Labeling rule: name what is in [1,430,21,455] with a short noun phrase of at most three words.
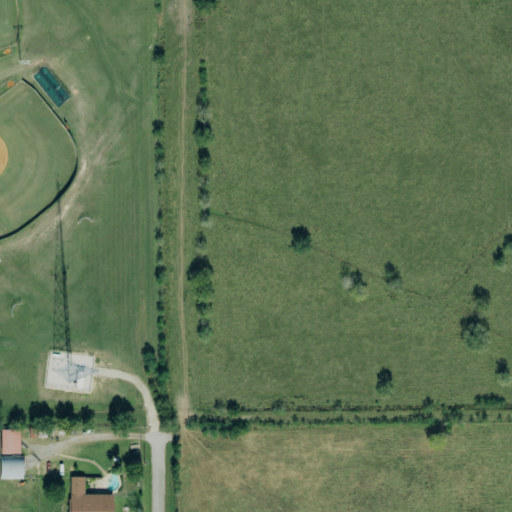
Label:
barn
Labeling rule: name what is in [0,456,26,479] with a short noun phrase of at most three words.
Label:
shed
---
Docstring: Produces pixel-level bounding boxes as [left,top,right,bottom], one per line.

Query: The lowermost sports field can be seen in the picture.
[0,79,77,238]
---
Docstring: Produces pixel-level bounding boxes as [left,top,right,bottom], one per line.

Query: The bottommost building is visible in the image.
[70,477,116,512]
